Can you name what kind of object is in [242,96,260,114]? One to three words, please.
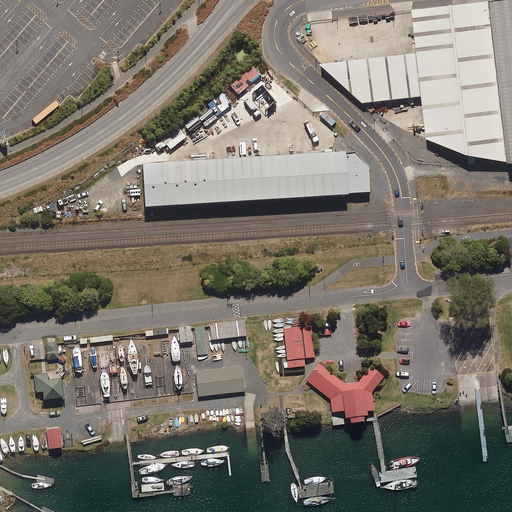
vehicle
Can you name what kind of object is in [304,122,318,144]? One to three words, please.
vehicle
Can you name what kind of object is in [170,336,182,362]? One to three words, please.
boat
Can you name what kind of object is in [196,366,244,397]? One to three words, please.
shed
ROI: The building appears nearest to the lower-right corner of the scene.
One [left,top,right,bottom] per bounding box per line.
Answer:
[307,364,384,426]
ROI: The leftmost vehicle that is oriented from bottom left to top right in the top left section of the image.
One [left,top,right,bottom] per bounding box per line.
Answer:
[30,101,60,125]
